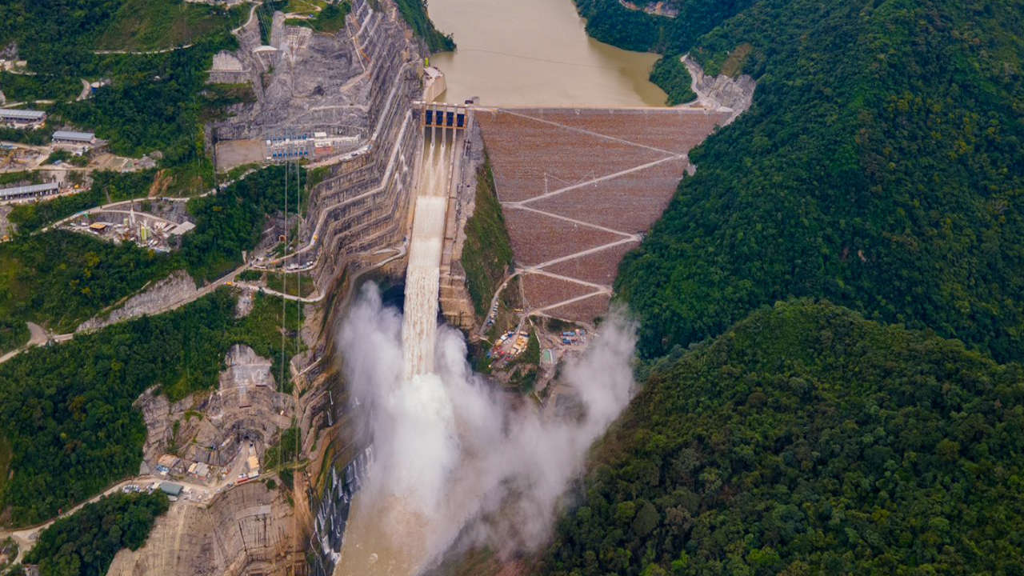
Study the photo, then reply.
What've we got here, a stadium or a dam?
dam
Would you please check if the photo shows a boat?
No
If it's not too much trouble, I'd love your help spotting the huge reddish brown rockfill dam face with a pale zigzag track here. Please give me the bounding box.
[471,104,737,322]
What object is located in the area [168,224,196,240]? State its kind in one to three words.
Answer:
building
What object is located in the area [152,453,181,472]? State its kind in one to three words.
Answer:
building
